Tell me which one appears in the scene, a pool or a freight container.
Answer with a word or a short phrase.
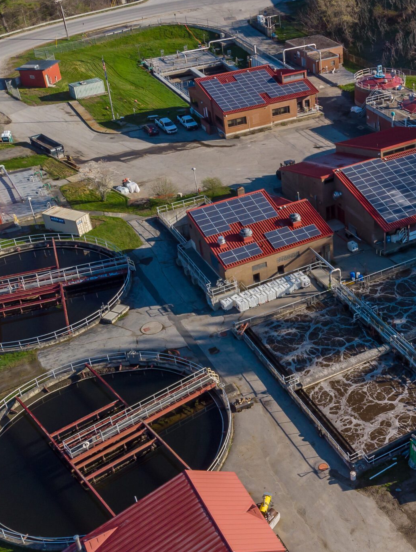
freight container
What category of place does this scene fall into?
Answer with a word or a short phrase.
industrial area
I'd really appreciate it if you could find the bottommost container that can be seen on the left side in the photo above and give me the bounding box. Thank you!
[44,203,91,234]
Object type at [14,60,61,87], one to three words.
building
